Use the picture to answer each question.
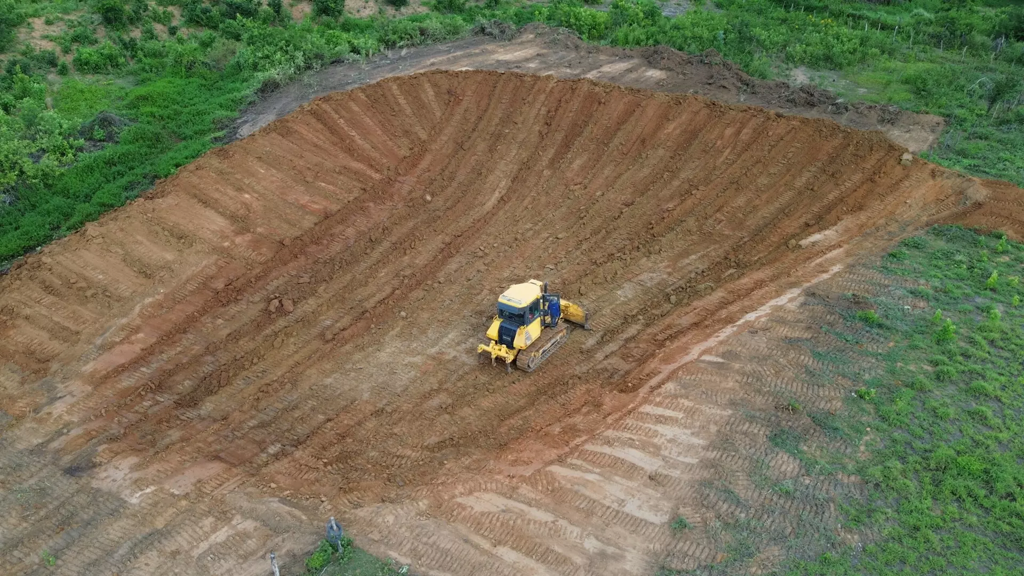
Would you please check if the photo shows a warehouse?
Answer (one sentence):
No, the photo shows no warehouse.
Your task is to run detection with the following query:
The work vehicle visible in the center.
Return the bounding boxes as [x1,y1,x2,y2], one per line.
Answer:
[476,278,591,378]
